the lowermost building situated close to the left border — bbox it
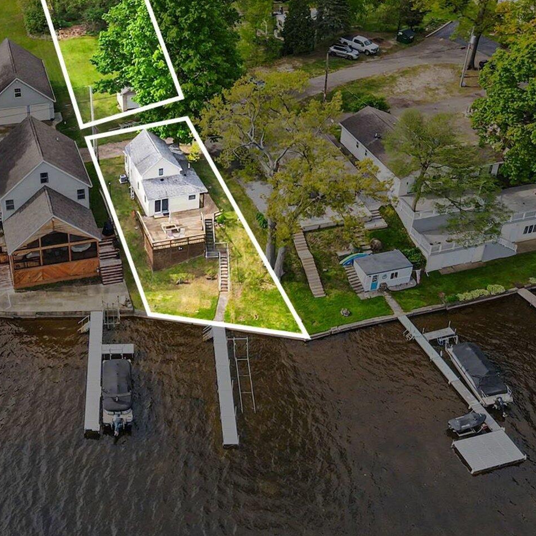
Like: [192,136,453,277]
[0,117,105,289]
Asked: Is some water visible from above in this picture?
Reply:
Yes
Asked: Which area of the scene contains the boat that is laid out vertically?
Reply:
bottom left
